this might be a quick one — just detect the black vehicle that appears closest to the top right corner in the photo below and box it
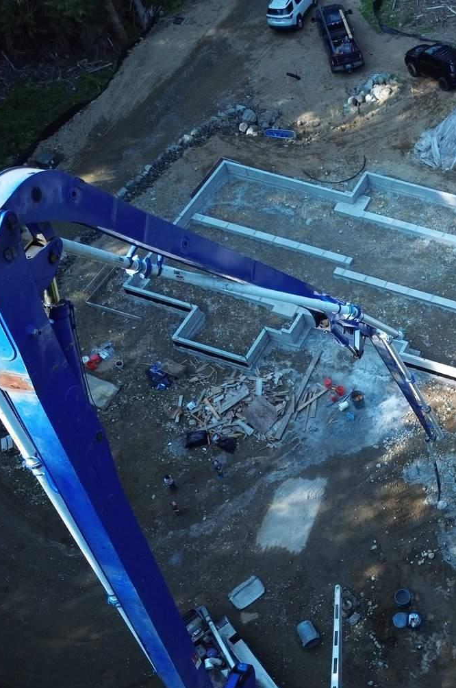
[400,44,456,93]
